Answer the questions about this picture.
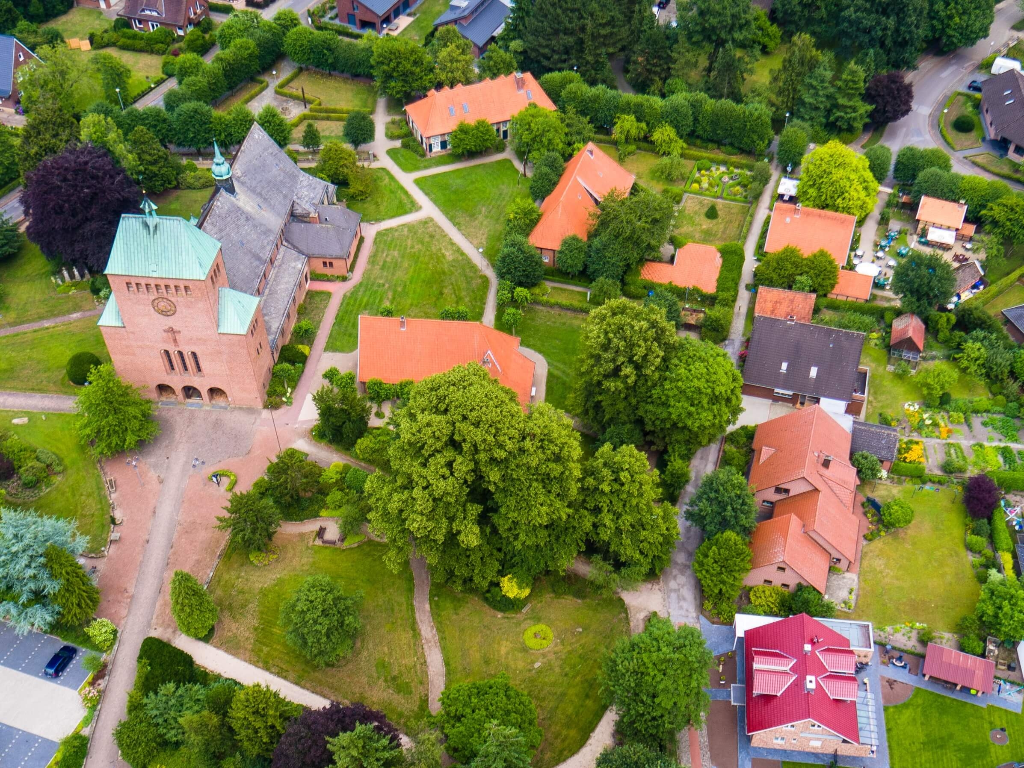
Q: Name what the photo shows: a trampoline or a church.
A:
church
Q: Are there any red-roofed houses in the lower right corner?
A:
Yes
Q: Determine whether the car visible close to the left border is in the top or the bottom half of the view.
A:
bottom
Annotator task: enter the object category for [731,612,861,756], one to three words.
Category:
house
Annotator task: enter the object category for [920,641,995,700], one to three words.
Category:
building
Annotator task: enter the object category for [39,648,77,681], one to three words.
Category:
car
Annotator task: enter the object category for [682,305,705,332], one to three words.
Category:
shed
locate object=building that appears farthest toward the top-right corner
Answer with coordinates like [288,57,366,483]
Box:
[980,68,1024,152]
